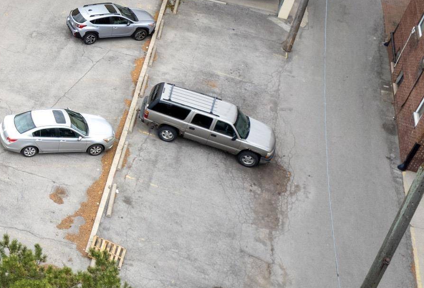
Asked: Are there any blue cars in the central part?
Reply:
No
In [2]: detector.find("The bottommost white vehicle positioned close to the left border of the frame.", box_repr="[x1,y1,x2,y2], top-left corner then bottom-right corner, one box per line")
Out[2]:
[1,108,118,157]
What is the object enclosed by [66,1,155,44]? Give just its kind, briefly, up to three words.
car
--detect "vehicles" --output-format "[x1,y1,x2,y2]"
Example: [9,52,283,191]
[1,108,118,157]
[147,81,285,169]
[66,1,155,44]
